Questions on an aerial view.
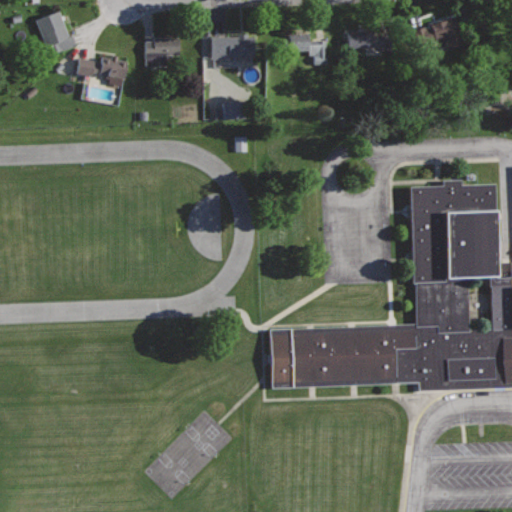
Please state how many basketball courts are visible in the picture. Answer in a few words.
one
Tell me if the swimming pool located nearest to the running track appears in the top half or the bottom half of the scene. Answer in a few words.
top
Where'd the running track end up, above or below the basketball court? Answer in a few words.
above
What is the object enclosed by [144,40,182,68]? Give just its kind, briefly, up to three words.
house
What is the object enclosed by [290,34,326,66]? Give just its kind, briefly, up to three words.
house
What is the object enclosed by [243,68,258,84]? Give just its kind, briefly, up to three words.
swimming pool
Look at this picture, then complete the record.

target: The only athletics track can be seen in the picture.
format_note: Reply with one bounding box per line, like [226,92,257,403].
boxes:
[0,140,254,323]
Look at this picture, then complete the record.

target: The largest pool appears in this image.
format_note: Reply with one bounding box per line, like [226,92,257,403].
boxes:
[84,76,119,105]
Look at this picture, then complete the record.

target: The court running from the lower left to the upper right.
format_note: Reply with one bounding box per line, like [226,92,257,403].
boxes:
[145,411,232,499]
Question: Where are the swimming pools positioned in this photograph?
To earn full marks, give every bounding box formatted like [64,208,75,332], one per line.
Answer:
[243,68,258,84]
[84,76,119,105]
